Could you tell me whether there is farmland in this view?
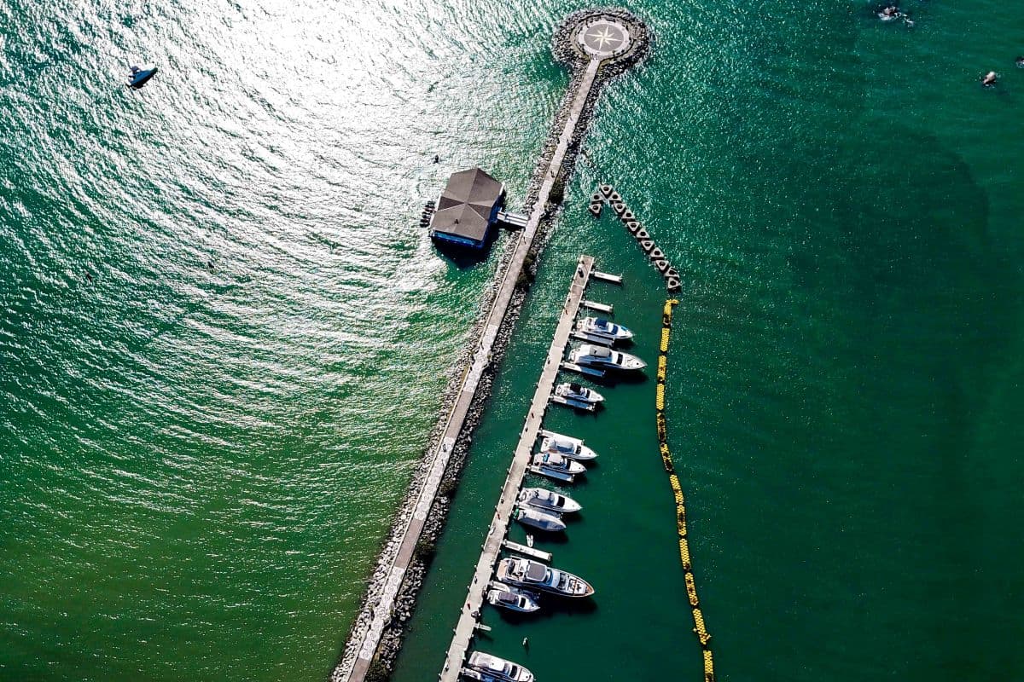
No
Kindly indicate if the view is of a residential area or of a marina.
marina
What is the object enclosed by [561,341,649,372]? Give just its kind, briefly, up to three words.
boat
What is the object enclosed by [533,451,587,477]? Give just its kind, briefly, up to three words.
boat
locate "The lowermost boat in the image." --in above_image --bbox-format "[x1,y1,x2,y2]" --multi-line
[468,645,536,682]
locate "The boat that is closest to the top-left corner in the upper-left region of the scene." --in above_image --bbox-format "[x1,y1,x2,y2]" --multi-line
[125,68,158,88]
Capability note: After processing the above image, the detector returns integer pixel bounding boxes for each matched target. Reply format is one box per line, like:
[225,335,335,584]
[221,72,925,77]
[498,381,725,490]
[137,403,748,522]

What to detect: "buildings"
[431,168,504,250]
